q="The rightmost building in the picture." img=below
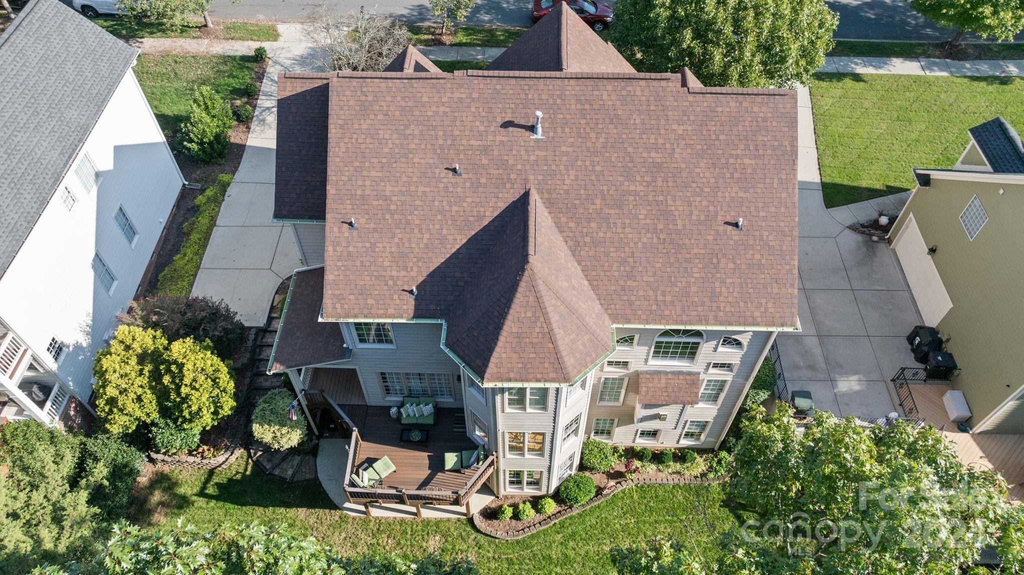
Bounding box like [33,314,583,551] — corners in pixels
[883,113,1024,434]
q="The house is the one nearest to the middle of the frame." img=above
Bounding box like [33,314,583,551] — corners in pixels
[265,0,800,499]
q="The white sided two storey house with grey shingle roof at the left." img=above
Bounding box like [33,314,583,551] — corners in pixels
[0,0,198,434]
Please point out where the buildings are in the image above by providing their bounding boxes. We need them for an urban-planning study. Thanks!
[883,113,1024,434]
[265,0,800,499]
[0,0,198,434]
